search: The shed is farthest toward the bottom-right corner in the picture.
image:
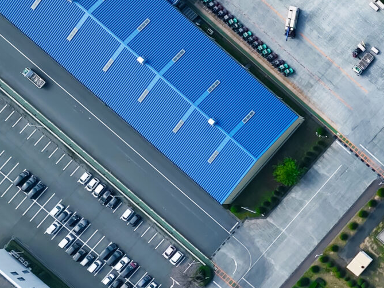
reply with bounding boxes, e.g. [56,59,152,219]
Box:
[346,250,374,275]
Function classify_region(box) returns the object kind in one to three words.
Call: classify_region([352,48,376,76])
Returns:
truck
